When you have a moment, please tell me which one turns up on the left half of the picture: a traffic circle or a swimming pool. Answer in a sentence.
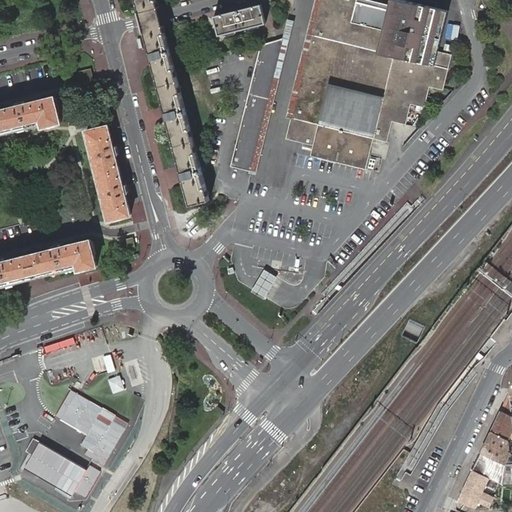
It is a traffic circle that can be seen on the left half of the picture.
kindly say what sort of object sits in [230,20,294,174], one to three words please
building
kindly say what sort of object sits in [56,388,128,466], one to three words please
building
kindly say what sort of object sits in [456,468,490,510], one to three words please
house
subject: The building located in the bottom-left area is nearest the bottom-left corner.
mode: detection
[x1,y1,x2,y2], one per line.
[21,437,102,498]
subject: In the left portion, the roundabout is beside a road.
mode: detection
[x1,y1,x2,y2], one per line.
[137,248,214,325]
